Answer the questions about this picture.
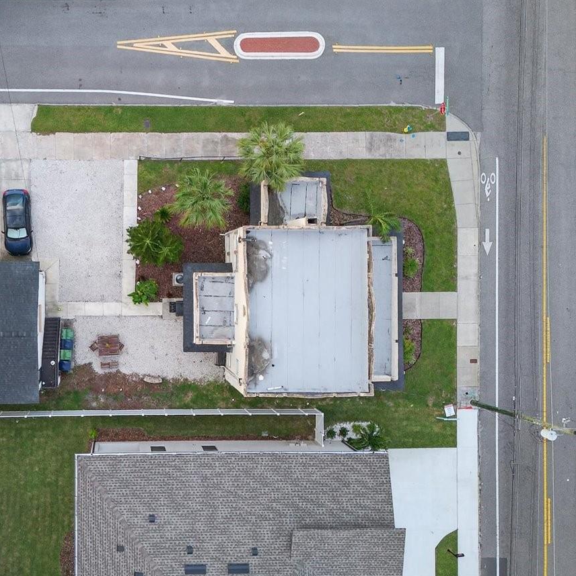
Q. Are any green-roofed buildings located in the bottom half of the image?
No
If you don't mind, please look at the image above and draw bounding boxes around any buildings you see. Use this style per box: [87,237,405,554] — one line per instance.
[73,438,405,576]
[182,171,402,397]
[0,262,48,407]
